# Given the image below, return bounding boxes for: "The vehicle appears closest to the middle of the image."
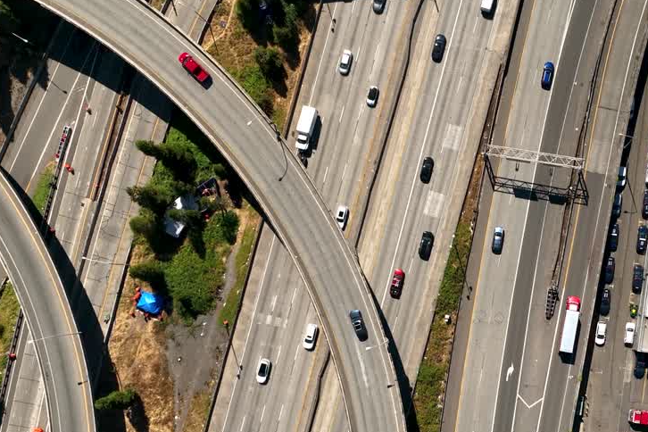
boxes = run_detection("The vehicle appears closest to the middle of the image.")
[337,204,349,230]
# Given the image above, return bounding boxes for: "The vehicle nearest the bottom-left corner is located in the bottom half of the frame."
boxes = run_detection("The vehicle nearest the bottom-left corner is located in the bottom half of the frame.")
[257,358,271,384]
